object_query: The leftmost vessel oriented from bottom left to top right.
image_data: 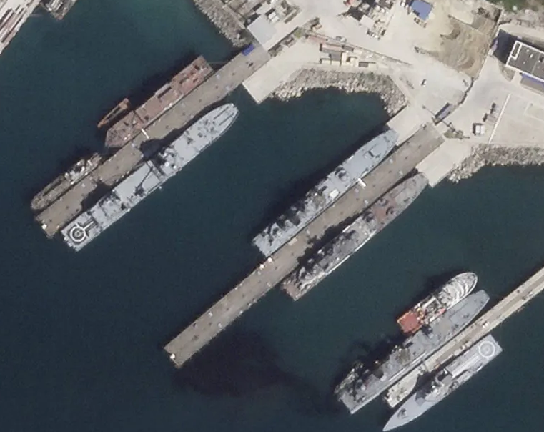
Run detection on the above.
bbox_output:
[31,157,100,209]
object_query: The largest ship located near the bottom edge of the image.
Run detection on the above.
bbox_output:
[338,290,488,415]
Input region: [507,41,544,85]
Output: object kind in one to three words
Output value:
building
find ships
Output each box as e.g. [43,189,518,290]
[399,275,477,333]
[384,337,501,431]
[253,130,398,257]
[282,173,428,303]
[338,290,488,415]
[31,157,100,209]
[97,100,129,126]
[61,103,239,251]
[106,56,213,145]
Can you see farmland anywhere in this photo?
No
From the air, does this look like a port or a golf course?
port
